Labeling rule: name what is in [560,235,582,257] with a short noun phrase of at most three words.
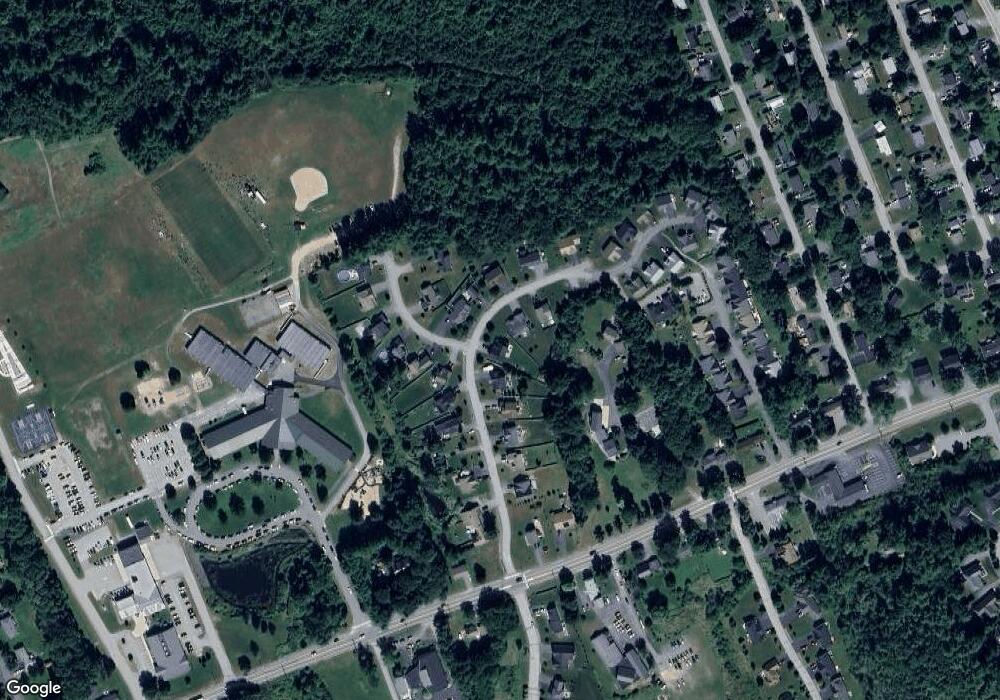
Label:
house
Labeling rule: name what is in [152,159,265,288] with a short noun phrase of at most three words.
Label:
sports field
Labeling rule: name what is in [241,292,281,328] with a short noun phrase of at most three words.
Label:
sports court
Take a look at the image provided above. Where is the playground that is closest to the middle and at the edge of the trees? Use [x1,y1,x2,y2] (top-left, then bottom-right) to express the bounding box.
[341,453,384,507]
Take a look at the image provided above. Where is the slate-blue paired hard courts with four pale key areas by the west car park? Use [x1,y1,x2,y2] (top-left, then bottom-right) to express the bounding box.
[12,408,58,454]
